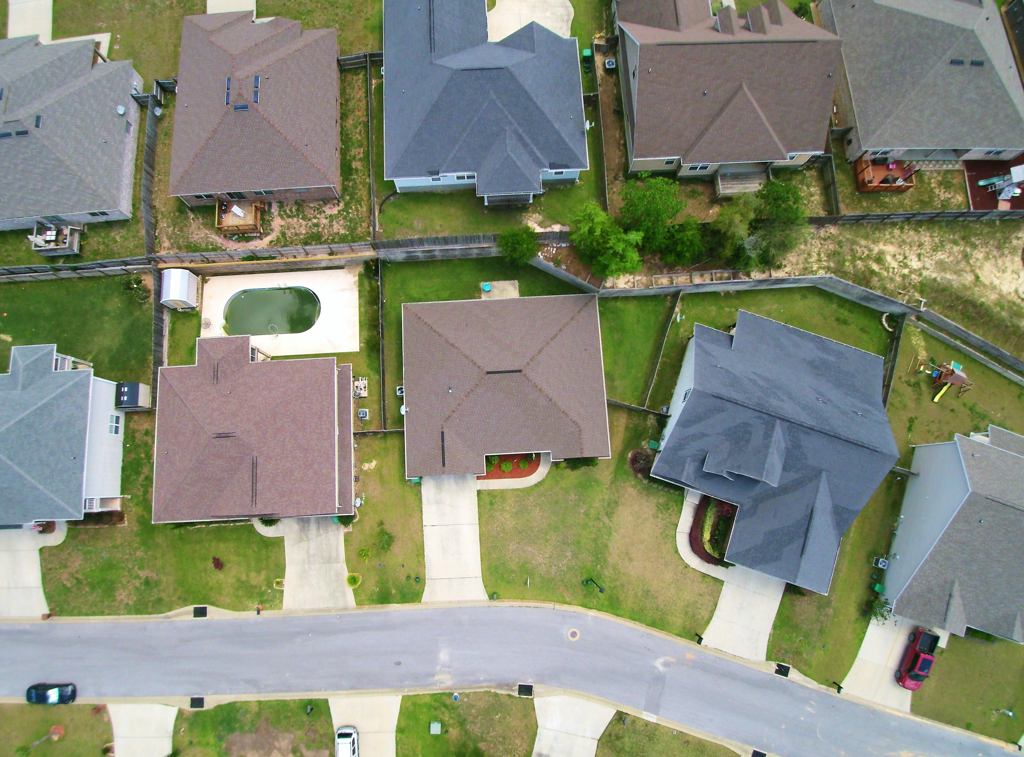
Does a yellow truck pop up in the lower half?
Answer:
No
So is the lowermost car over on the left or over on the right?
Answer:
left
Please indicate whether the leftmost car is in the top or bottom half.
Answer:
bottom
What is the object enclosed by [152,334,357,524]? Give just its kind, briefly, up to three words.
house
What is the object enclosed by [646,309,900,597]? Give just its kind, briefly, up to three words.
house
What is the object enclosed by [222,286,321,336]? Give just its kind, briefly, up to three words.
swimming pool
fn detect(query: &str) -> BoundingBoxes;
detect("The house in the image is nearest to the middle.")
[401,293,611,480]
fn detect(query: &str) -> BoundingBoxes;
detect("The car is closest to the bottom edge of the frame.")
[333,724,357,757]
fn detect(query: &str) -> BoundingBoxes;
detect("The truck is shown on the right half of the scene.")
[896,622,943,694]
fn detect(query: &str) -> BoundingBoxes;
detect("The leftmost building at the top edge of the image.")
[0,33,145,234]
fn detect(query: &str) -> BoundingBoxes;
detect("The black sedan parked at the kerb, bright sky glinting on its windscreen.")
[21,683,79,709]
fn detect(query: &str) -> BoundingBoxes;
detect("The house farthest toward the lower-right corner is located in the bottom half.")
[875,424,1024,645]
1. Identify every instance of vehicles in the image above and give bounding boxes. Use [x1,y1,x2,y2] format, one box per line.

[333,724,357,757]
[896,622,943,694]
[21,683,79,709]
